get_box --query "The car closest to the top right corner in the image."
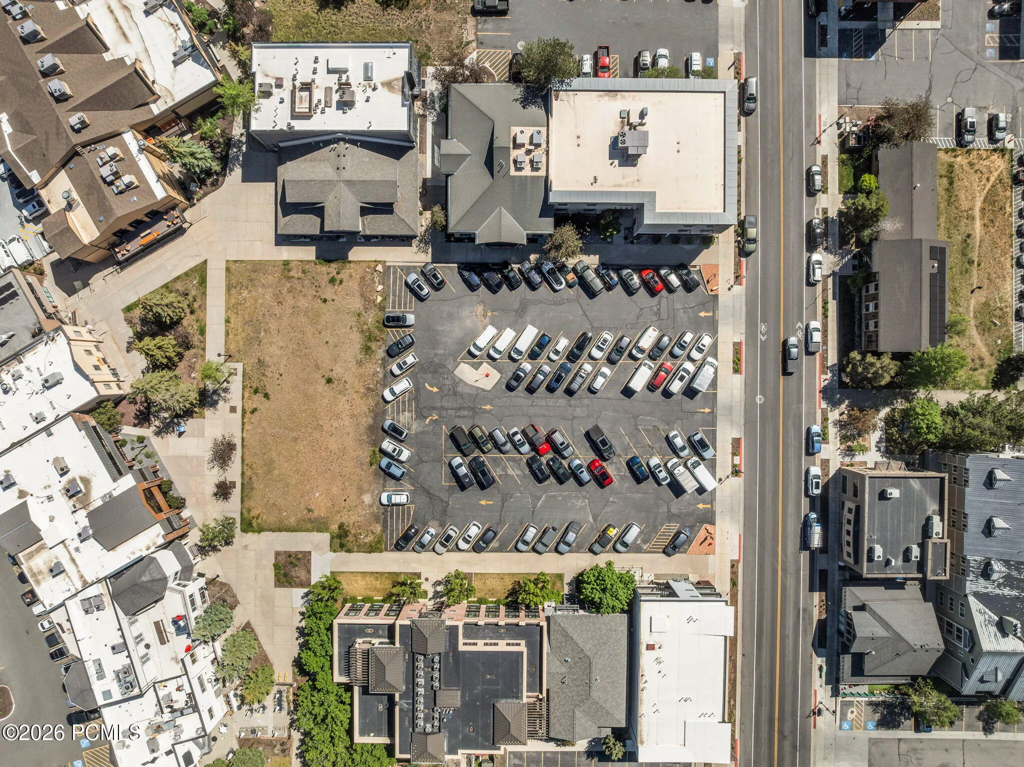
[987,2,1020,19]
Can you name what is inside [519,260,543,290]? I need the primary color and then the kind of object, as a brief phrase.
gray car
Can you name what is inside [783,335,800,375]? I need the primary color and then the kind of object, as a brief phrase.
gray vehicle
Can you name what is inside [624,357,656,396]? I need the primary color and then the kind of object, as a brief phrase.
white van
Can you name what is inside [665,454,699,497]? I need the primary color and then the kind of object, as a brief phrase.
white truck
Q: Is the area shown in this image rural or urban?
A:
urban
